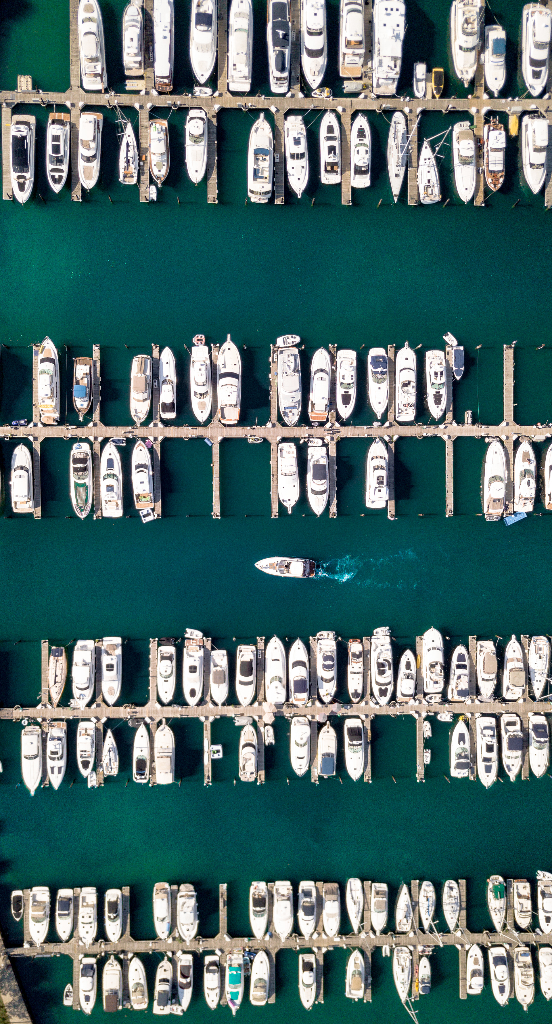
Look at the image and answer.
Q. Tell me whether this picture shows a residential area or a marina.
marina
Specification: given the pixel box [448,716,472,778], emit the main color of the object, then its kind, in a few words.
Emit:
white boat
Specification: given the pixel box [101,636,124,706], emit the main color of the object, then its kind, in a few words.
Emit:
white boat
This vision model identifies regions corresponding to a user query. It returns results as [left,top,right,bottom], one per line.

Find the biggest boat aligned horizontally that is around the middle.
[255,556,316,578]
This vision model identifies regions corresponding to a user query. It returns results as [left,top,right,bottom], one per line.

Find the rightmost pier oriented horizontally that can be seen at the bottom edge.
[57,878,552,1009]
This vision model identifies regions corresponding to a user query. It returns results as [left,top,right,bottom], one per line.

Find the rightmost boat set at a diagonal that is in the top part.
[442,330,457,346]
